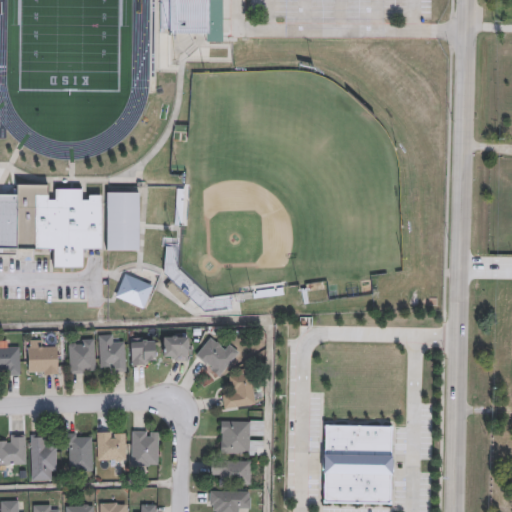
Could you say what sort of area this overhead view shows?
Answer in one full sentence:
What you see here is a sports ground.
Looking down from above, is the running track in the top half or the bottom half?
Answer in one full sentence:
The running track sits in the top half of the picture.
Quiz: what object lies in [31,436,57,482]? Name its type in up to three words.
house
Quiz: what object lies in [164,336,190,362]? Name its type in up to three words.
house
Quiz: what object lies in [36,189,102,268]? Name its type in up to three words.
building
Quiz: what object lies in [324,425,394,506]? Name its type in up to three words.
building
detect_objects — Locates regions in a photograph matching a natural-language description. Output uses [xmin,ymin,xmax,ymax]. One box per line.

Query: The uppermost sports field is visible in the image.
[7,0,133,142]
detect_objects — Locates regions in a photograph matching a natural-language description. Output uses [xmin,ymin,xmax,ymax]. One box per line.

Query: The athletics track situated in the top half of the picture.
[0,0,150,159]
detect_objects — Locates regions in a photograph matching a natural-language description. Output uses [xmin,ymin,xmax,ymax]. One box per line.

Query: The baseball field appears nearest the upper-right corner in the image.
[178,69,402,297]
